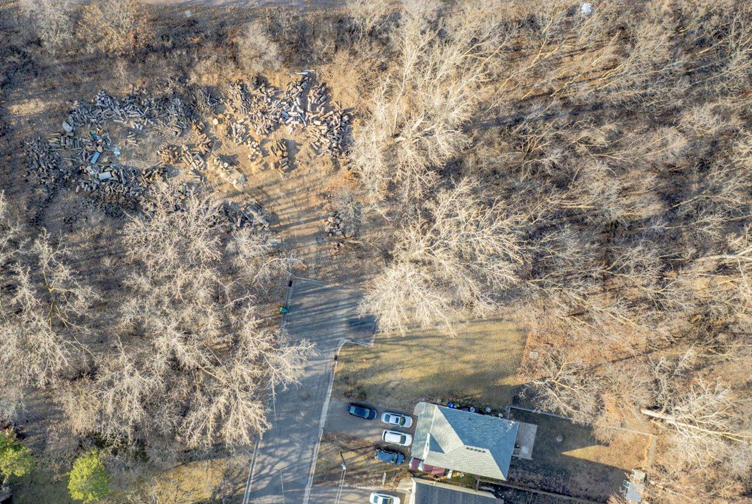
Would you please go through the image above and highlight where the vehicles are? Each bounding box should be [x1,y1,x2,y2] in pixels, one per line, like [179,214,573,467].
[369,493,398,504]
[346,403,378,421]
[380,412,413,429]
[381,430,412,447]
[374,448,405,466]
[407,457,445,477]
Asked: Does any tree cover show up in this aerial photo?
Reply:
Yes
